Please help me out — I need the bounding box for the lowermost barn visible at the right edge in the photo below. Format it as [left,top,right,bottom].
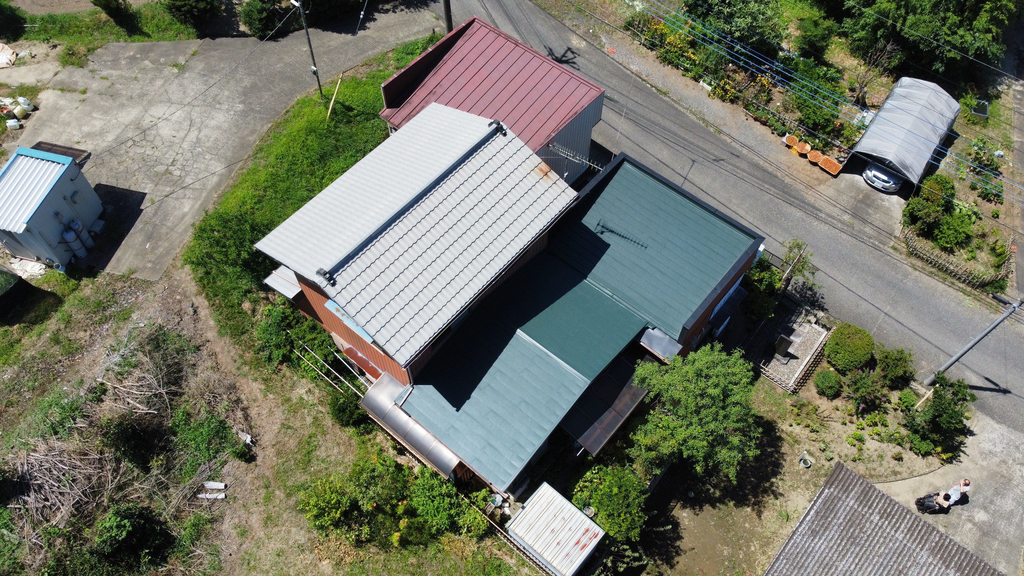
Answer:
[760,458,1010,576]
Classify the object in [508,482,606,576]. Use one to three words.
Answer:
shed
